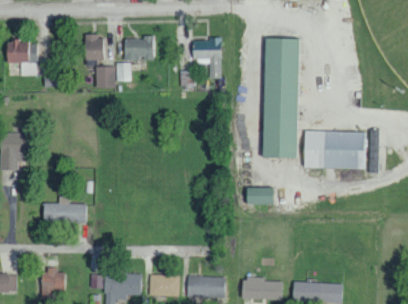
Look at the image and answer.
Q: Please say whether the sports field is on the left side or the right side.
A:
right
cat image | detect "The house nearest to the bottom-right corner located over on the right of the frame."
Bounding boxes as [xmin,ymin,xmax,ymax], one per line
[293,282,343,303]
